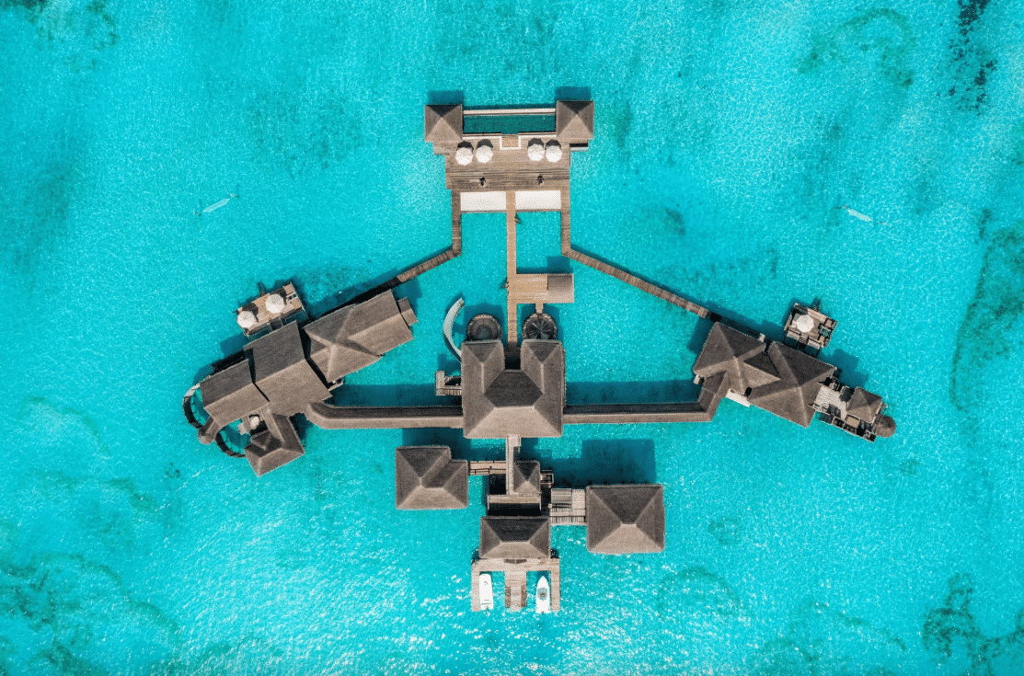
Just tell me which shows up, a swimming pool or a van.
swimming pool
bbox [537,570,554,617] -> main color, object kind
white boat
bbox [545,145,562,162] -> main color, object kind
white umbrella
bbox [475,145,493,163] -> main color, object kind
white umbrella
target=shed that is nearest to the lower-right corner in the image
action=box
[870,416,895,436]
